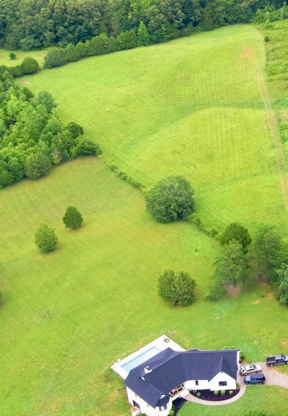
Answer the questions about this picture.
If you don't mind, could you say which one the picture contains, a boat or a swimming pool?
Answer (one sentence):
There is a swimming pool in the scene.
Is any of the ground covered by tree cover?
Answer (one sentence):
Yes, some tree cover is visible.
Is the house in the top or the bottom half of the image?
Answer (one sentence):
The house is in the bottom half of the image.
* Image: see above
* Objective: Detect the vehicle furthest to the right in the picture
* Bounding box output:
[265,353,288,365]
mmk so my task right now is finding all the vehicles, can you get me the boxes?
[243,372,265,385]
[265,353,288,365]
[240,362,262,373]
